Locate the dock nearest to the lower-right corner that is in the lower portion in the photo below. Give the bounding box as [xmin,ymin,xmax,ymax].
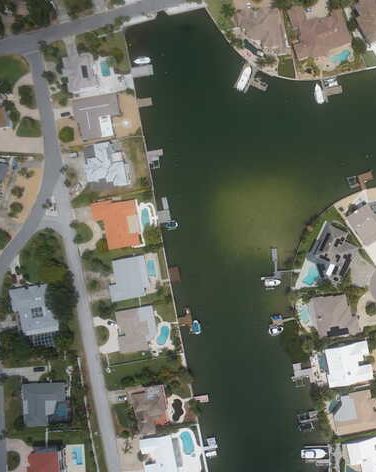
[303,443,333,472]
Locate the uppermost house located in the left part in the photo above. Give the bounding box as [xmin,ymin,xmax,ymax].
[62,52,98,92]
